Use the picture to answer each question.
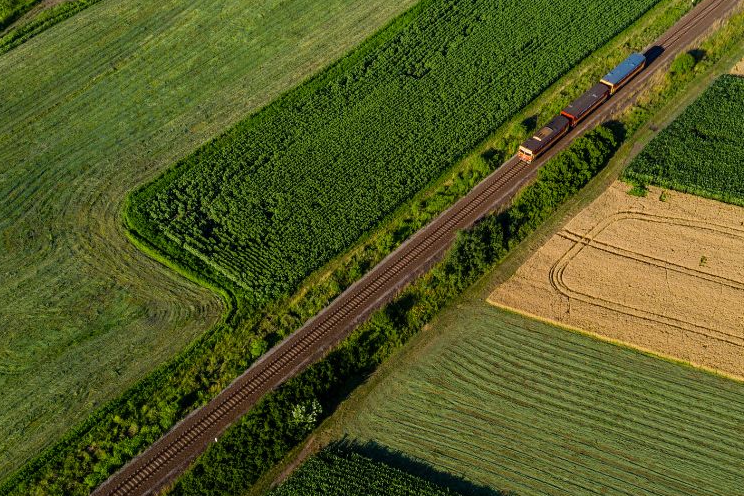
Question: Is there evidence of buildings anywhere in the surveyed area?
No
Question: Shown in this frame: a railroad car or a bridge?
railroad car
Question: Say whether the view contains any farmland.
Yes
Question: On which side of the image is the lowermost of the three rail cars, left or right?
right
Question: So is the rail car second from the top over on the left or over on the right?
right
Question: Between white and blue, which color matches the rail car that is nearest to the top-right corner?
blue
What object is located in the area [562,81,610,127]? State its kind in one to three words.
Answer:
rail car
